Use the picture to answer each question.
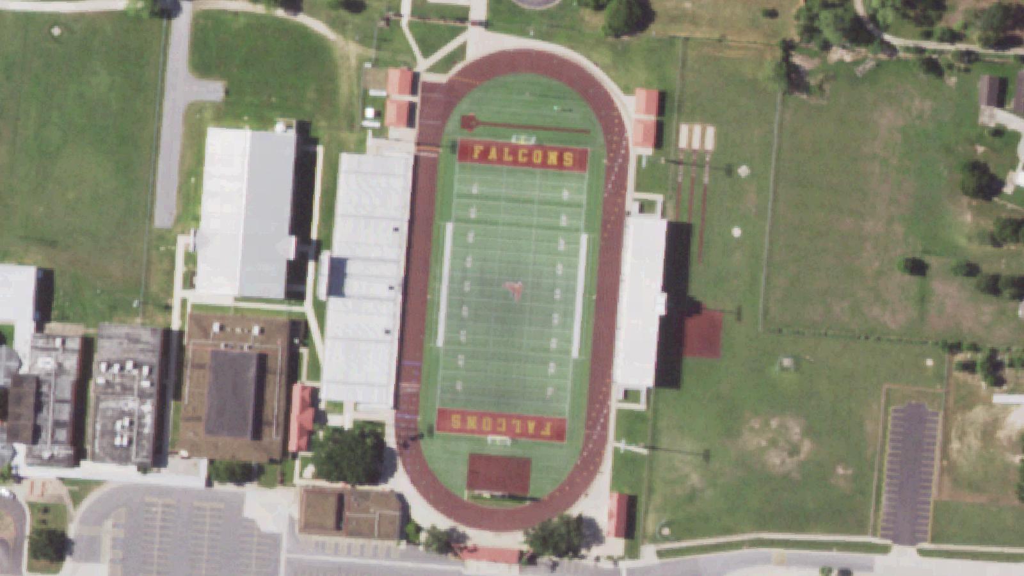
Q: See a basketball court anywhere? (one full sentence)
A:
No, I find no basketball court anywhere in the image.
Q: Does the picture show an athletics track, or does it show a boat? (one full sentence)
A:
The image shows an athletics track.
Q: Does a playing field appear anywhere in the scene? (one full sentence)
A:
Yes, there's a playing field down there.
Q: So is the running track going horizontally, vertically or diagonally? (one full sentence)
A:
What the image shows is the running track lying vertically.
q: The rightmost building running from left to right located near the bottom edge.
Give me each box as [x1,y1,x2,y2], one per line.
[456,543,520,564]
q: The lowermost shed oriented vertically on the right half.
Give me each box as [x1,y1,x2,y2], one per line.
[607,492,629,538]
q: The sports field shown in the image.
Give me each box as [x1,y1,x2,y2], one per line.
[420,75,605,506]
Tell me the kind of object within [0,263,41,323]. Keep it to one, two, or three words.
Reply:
building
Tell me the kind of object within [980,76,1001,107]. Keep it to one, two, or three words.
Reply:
house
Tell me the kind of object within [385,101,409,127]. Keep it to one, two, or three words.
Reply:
shed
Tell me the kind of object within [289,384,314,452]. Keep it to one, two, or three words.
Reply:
building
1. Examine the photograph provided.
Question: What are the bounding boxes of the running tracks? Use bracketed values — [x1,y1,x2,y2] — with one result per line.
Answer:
[397,52,628,530]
